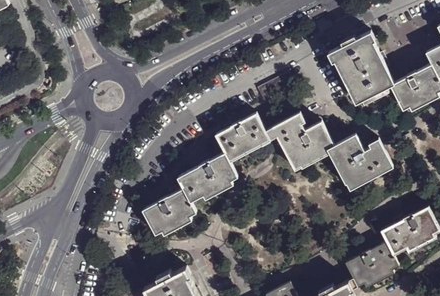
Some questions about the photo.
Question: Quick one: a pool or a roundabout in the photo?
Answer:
roundabout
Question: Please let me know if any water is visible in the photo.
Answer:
No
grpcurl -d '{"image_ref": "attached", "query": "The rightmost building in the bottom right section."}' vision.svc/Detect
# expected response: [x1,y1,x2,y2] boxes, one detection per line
[380,206,440,257]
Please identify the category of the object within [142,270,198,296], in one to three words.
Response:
building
